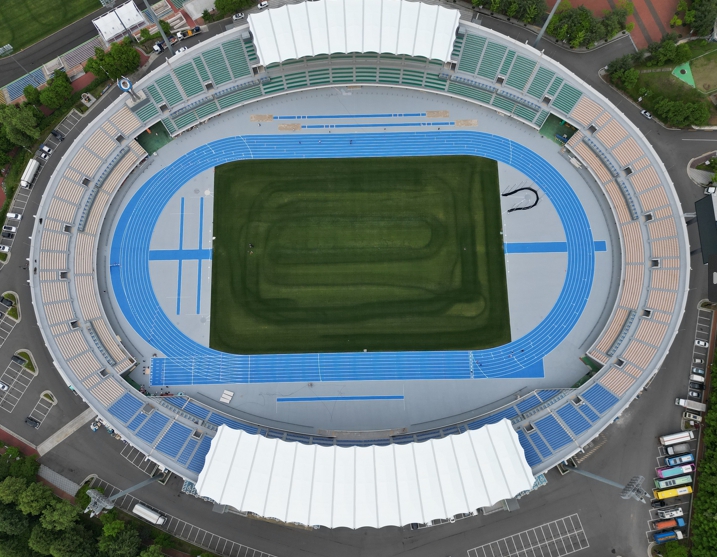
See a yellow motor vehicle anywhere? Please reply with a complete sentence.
Yes, I can see a yellow motor vehicle in this picture.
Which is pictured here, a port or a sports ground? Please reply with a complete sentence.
This image shows a sports ground.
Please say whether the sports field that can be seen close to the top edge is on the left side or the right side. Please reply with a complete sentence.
The sports field that can be seen close to the top edge is on the left side of the image.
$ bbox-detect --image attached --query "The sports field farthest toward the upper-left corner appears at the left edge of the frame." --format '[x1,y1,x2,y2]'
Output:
[0,0,156,86]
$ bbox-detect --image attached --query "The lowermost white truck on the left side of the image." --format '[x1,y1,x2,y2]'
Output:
[132,505,168,526]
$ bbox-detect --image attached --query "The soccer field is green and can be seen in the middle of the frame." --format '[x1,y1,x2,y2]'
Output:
[209,156,511,354]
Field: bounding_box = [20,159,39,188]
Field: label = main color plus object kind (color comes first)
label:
white vehicle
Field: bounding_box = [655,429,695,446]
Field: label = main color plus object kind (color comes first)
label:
white vehicle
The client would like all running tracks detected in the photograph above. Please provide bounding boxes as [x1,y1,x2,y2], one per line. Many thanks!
[109,110,606,410]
